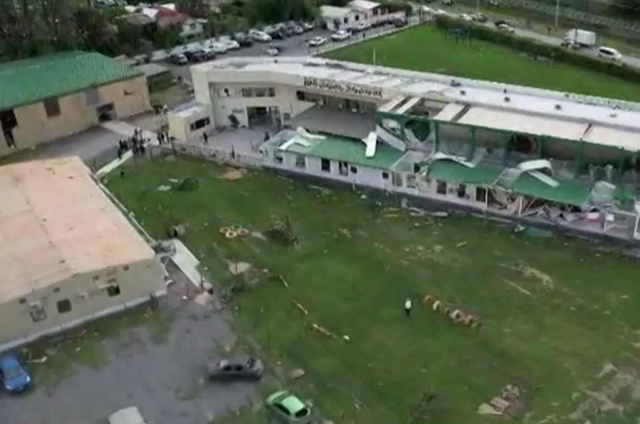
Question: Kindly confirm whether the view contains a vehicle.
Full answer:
Yes, a vehicle is visible in the scene.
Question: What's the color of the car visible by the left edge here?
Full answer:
In this view, the car visible by the left edge is blue.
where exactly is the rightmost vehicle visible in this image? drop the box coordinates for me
[598,46,623,61]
